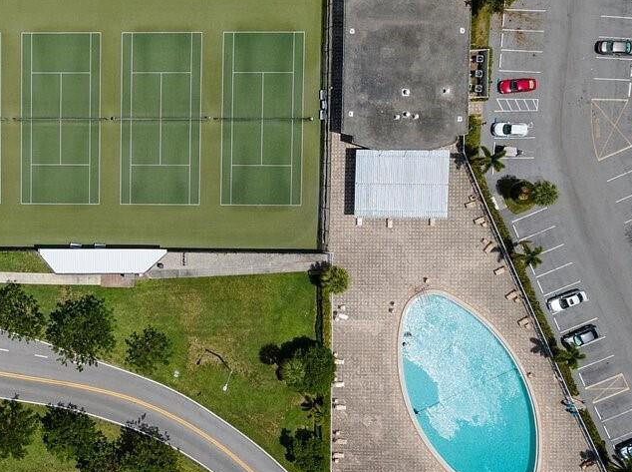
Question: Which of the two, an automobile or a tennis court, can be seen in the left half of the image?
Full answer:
Visible in the left half of the image is a tennis court.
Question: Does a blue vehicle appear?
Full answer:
No, there appears to be no blue vehicle in this shot.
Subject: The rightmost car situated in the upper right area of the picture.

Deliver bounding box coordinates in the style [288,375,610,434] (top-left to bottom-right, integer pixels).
[597,40,632,55]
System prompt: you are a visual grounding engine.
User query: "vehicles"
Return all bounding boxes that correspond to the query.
[498,77,537,95]
[546,286,586,312]
[562,324,599,348]
[597,40,632,55]
[491,120,529,138]
[614,439,632,458]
